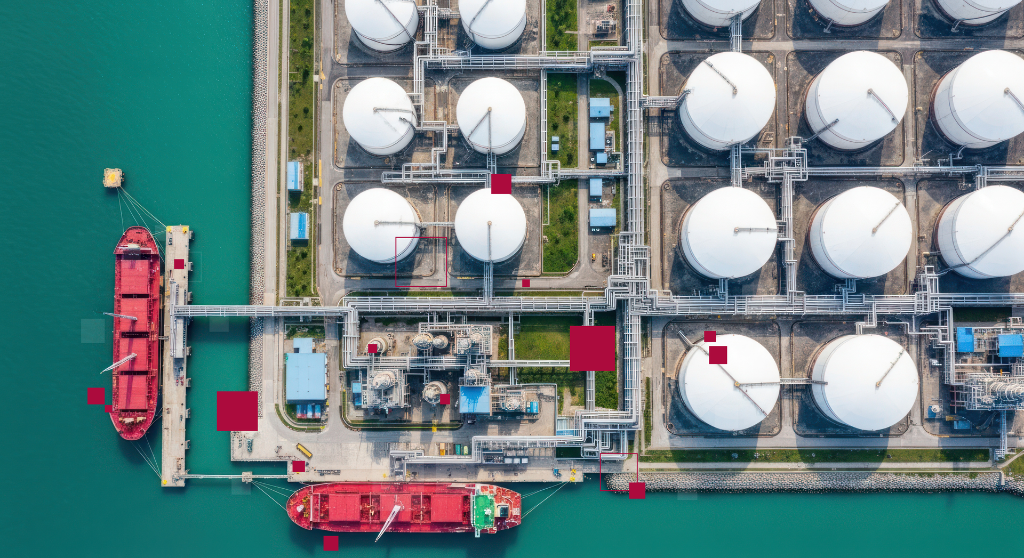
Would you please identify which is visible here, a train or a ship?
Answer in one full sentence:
There is a ship in the scene.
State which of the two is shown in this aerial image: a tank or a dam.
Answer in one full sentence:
The image shows a tank.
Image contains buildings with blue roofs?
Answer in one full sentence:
Yes, a building with a blue roof is visible in the scene.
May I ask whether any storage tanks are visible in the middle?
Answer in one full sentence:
Yes, looking in the middle, one can make out a storage tank.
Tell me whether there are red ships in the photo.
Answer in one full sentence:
Yes, there is a red ship in the image.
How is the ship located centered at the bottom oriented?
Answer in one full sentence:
The ship located centered at the bottom has been laid out from left to right relative to the frame.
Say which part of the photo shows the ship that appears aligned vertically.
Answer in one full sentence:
The ship that appears aligned vertically sits in the left section of the image.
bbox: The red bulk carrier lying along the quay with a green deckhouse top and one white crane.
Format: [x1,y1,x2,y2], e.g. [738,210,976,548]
[286,481,521,542]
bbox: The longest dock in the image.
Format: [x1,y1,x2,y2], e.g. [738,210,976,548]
[161,225,191,486]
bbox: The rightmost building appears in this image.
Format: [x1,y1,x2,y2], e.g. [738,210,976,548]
[992,335,1023,357]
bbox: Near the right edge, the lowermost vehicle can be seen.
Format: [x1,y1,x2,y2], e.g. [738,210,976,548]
[946,413,996,429]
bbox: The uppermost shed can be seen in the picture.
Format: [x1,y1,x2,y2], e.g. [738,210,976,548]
[590,98,609,118]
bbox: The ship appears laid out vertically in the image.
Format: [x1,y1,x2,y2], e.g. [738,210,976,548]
[101,226,166,441]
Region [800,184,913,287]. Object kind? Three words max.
storage tank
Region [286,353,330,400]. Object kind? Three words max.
building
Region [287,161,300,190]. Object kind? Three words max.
shed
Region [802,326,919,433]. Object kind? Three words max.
storage tank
